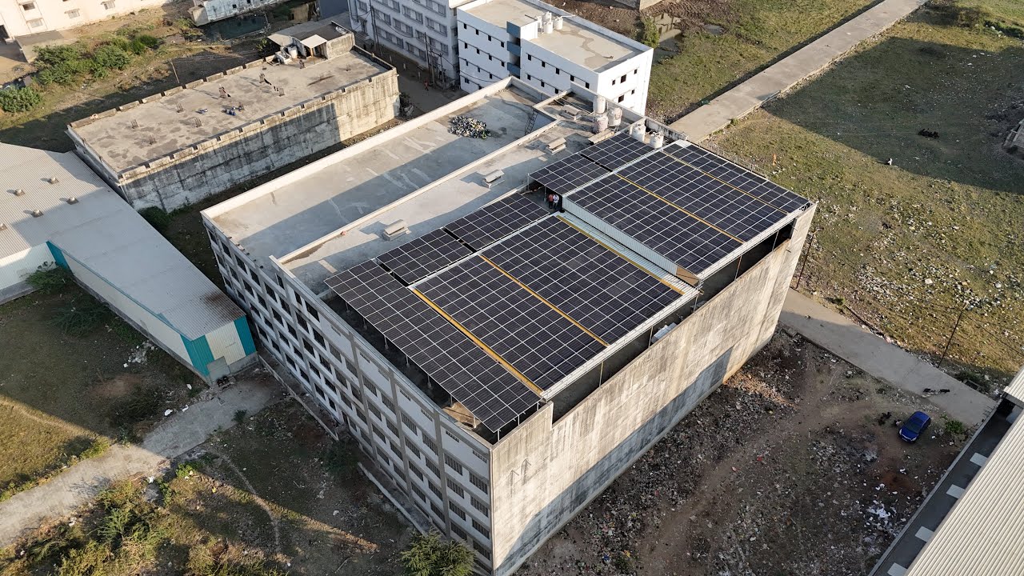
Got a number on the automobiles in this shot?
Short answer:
1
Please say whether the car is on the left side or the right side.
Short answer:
right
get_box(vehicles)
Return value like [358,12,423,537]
[901,409,930,441]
